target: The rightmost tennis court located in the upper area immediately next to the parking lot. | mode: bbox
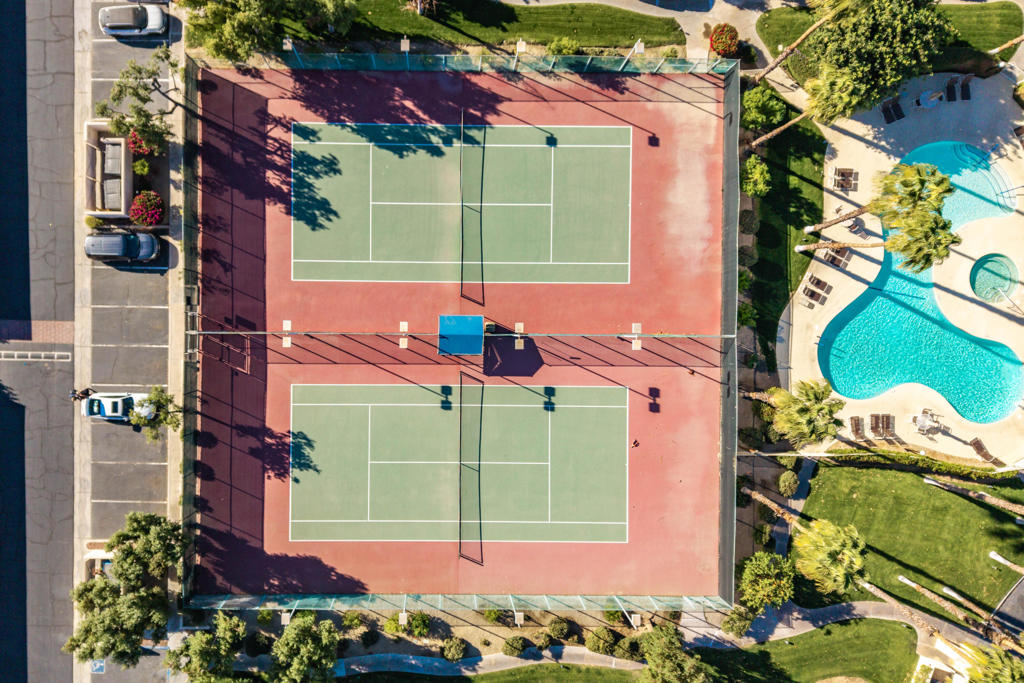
[198,68,725,335]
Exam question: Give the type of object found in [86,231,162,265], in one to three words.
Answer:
car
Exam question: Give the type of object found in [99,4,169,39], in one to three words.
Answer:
car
